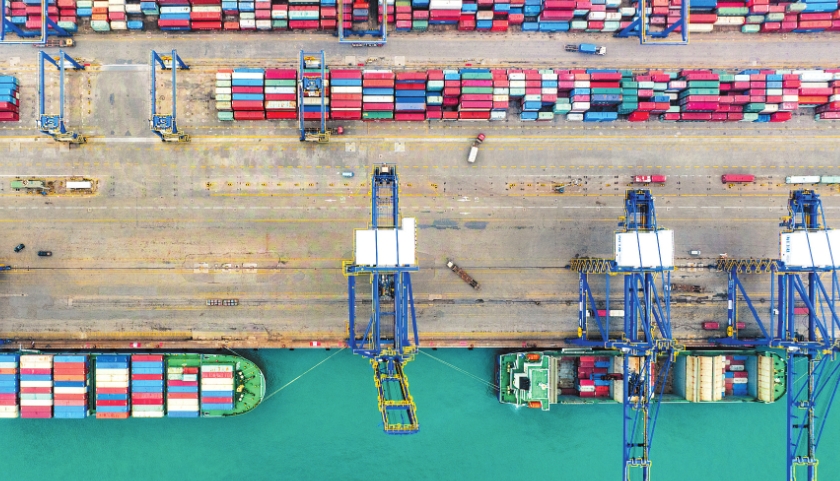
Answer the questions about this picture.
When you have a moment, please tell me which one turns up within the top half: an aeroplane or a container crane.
container crane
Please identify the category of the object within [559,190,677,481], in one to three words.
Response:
container crane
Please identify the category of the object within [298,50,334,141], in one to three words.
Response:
container crane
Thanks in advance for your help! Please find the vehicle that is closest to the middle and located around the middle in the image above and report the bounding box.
[445,259,478,289]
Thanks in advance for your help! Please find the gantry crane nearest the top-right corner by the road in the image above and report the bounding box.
[618,0,687,44]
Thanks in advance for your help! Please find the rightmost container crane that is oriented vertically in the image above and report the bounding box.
[701,190,840,481]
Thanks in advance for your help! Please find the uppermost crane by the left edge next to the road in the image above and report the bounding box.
[1,0,69,44]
